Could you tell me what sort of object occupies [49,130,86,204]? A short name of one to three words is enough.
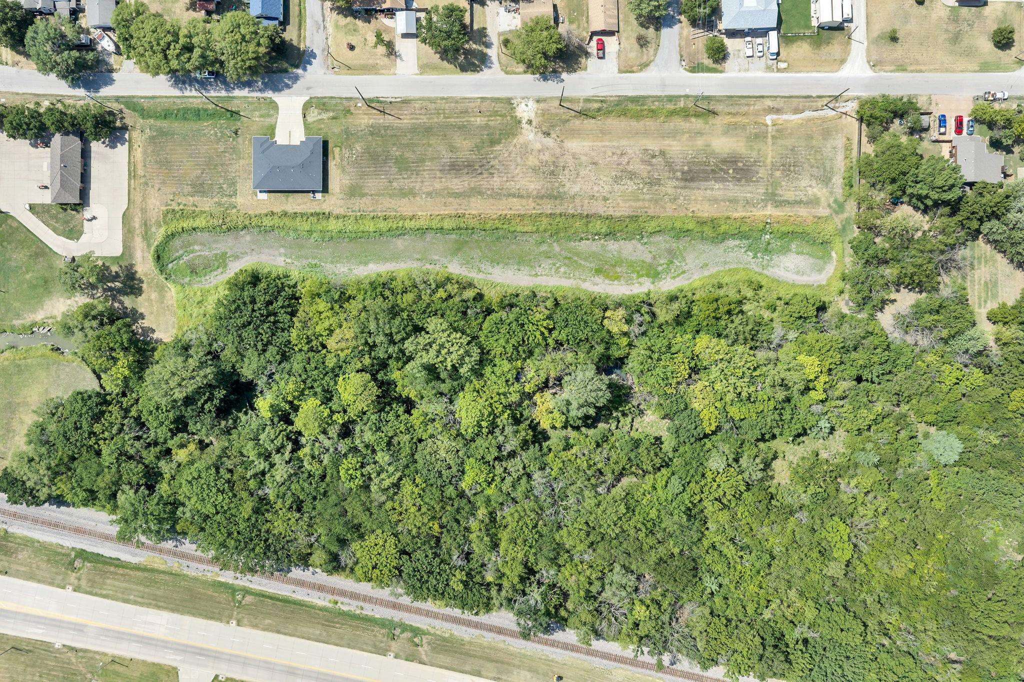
building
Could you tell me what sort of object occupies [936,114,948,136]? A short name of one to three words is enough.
vehicle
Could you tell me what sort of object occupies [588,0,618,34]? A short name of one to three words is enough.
house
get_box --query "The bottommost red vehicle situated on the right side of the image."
[953,115,965,136]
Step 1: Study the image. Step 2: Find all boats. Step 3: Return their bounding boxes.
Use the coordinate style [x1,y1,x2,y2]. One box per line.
[95,30,121,56]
